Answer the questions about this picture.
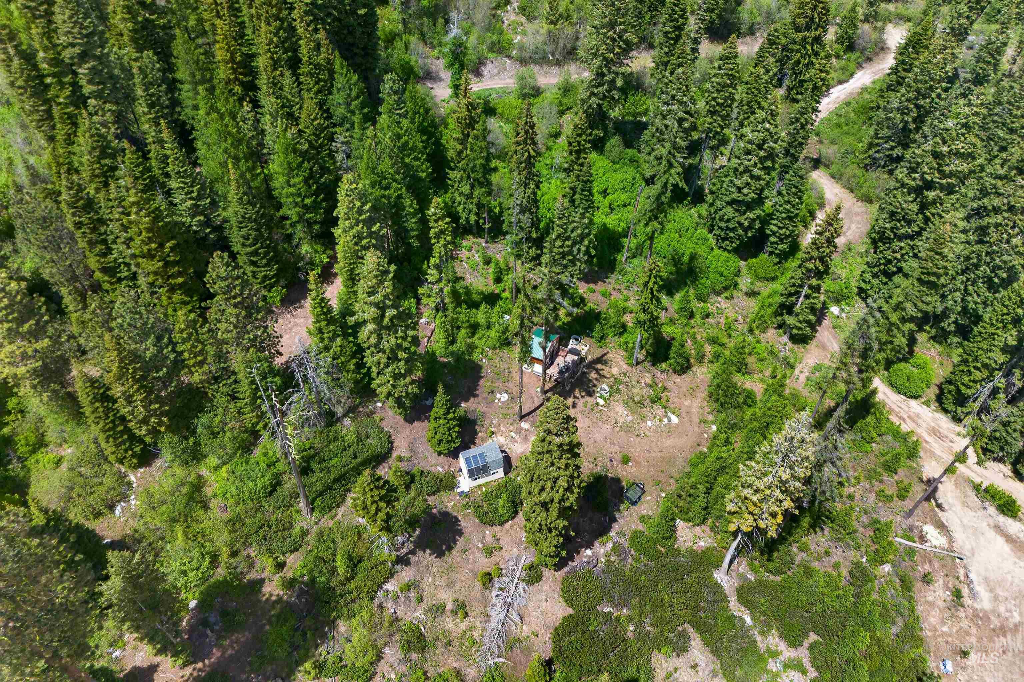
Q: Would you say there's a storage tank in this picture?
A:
No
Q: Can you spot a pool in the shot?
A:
No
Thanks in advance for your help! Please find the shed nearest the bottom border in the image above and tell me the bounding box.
[453,442,506,496]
